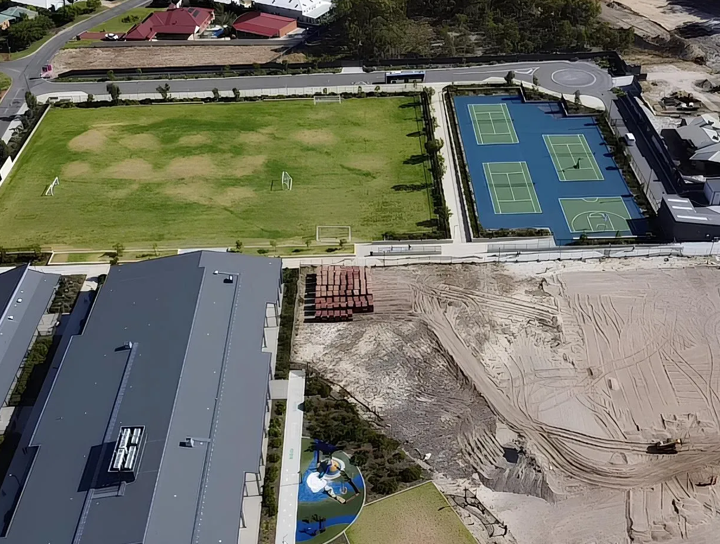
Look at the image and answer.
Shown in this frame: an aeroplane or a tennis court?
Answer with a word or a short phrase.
tennis court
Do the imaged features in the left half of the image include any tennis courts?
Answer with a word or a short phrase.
No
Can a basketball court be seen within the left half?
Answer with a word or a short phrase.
No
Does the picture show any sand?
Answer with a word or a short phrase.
Yes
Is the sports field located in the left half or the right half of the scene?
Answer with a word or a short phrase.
left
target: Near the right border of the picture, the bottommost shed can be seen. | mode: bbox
[660,198,720,239]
